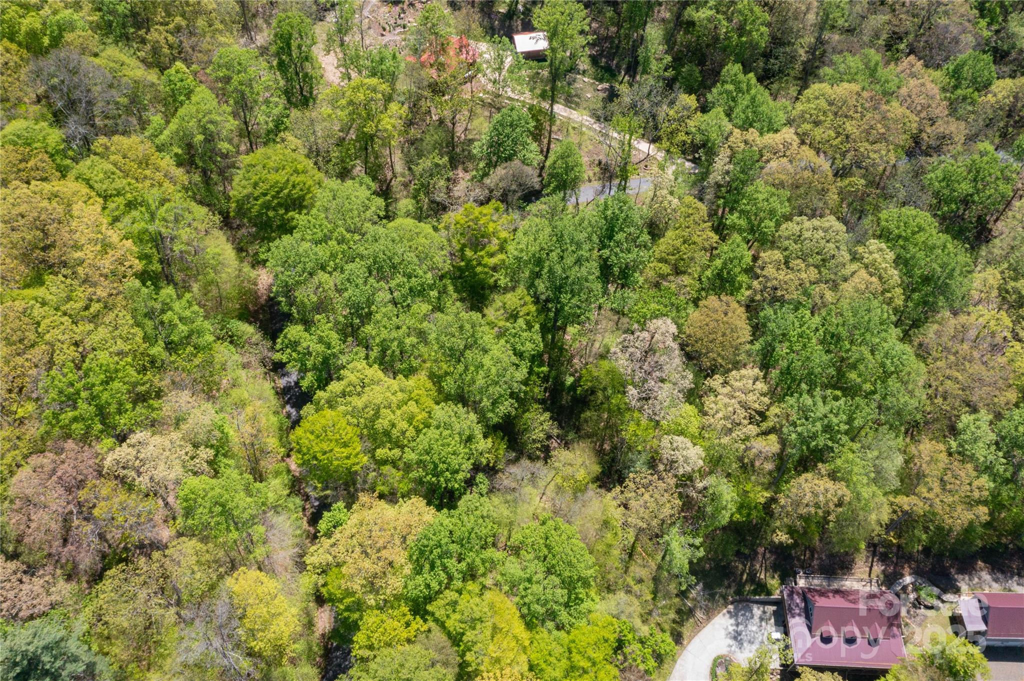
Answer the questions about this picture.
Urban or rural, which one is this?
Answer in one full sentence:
This place is rural.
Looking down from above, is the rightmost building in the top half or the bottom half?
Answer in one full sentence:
It is in the bottom half that the rightmost building appears.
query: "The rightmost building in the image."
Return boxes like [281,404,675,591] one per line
[935,591,1024,646]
